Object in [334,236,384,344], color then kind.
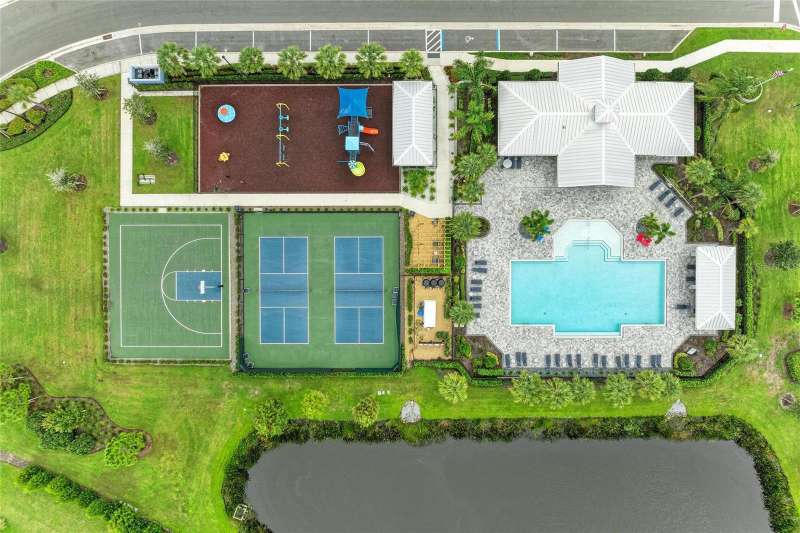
blue sports court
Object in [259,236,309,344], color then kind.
blue sports court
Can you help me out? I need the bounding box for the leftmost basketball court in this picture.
[108,212,229,360]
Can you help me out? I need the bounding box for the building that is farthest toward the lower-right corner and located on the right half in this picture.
[685,245,736,332]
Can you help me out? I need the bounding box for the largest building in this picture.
[497,53,695,188]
